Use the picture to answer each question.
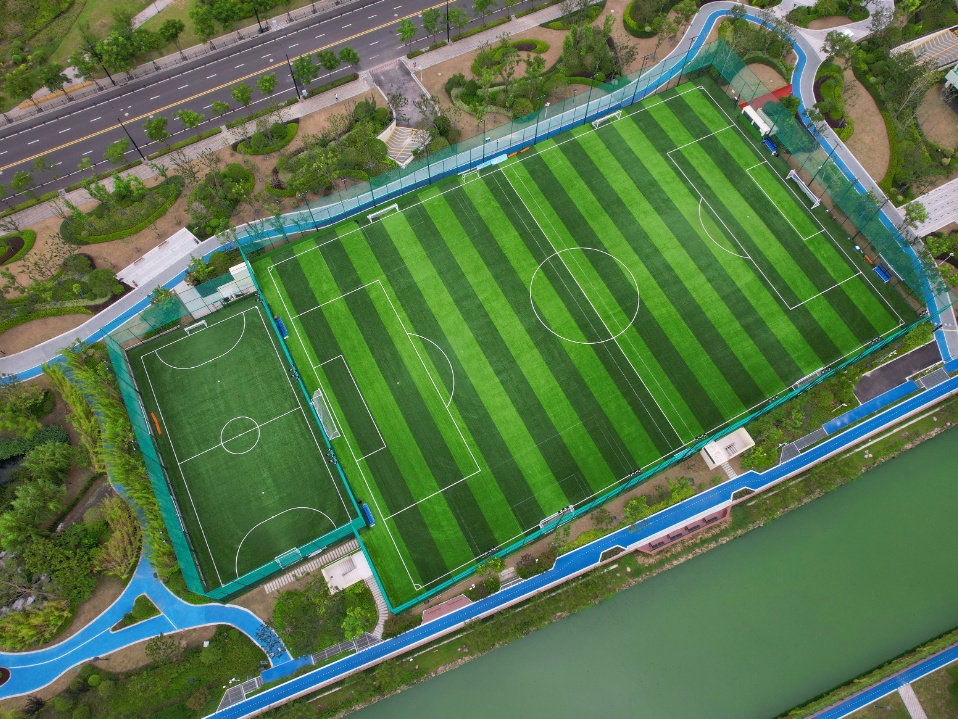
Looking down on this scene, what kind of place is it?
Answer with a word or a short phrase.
sports ground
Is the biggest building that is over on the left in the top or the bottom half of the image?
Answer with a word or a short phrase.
bottom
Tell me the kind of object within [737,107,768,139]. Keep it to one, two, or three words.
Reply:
building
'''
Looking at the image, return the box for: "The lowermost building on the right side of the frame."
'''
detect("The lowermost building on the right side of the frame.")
[700,430,756,469]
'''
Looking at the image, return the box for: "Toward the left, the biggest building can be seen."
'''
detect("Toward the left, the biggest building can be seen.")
[321,547,370,592]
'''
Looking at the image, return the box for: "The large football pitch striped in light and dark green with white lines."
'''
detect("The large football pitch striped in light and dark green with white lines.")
[248,73,922,606]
